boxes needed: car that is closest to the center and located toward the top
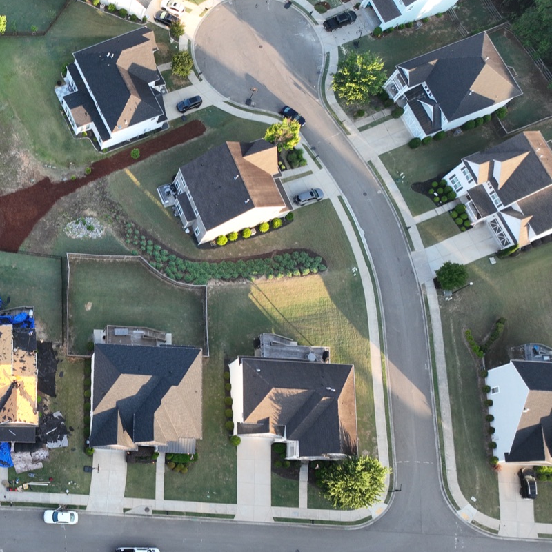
[289,187,325,208]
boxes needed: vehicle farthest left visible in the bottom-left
[42,509,79,525]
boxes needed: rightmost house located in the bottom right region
[481,341,552,464]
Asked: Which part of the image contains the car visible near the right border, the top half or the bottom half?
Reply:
bottom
